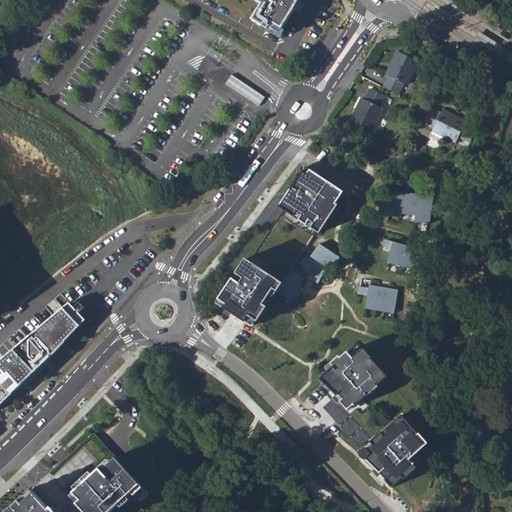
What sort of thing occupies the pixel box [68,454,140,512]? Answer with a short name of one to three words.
building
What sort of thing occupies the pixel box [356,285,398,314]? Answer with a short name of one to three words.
house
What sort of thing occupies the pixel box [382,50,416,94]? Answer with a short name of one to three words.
house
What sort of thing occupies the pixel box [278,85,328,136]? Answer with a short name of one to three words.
roundabout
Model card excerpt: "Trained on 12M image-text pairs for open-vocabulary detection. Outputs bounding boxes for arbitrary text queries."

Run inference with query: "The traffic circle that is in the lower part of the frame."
[132,281,194,343]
